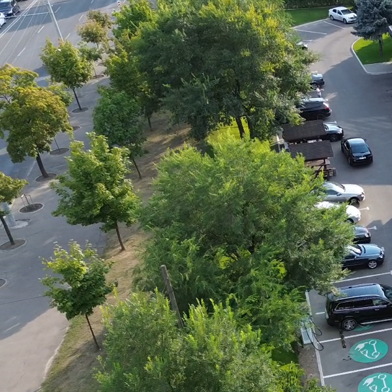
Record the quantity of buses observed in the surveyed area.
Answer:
0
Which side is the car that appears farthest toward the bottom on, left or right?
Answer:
right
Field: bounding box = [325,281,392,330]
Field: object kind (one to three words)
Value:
car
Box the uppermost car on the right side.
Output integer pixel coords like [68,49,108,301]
[329,7,356,23]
